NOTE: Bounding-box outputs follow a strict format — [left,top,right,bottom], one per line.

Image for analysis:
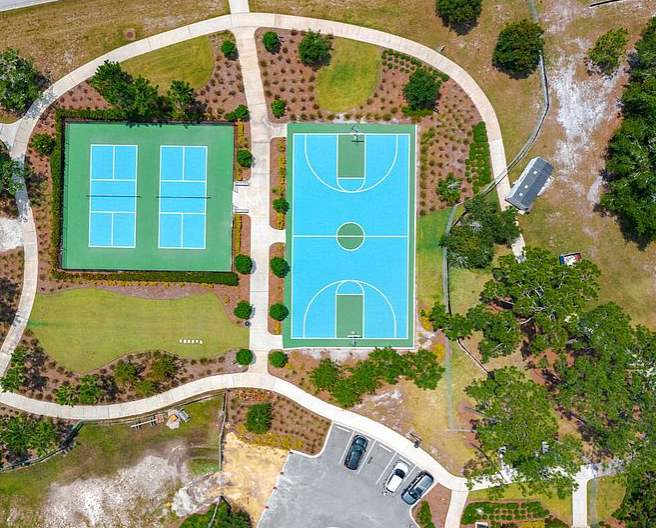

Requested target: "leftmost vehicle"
[343,433,366,471]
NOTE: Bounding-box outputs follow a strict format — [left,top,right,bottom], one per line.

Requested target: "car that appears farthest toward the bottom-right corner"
[402,469,434,505]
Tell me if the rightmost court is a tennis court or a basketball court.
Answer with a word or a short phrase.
basketball court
